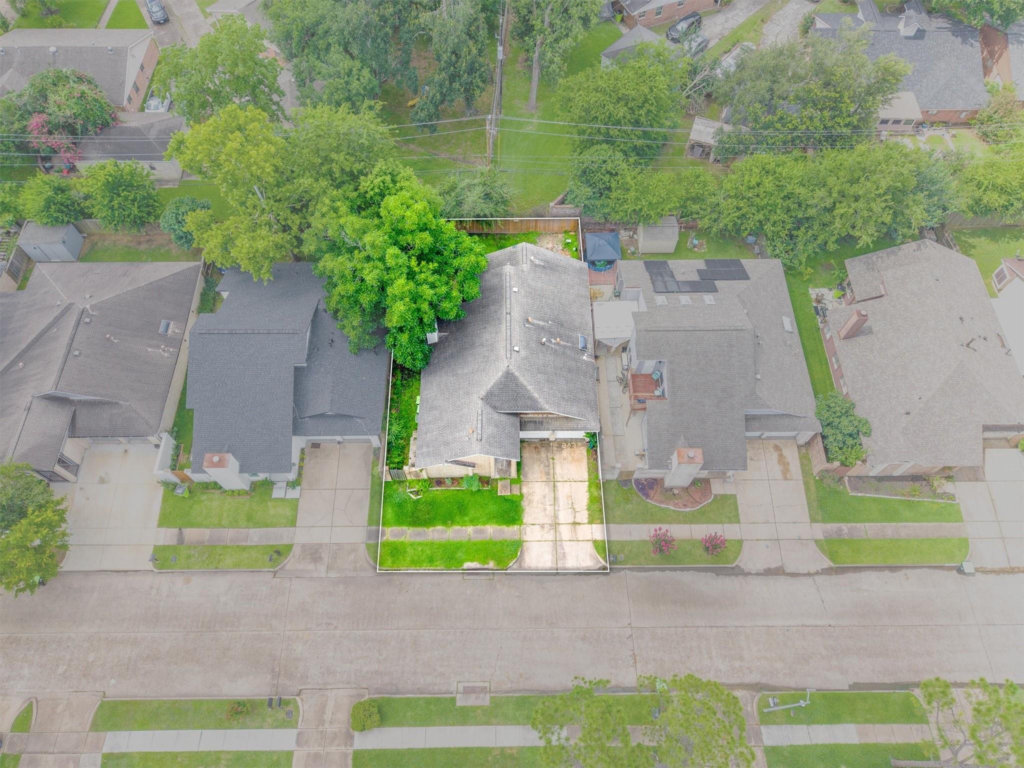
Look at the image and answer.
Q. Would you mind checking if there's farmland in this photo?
No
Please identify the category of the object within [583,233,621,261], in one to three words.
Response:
gazebo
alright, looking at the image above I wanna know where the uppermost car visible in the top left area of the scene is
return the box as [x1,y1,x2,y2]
[140,0,171,27]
